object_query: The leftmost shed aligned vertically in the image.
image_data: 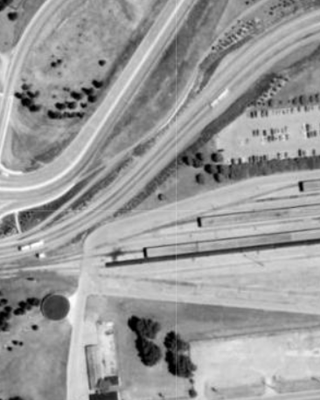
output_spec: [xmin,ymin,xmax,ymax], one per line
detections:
[86,346,99,391]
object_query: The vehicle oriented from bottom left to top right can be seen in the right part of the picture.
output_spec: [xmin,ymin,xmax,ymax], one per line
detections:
[211,90,229,107]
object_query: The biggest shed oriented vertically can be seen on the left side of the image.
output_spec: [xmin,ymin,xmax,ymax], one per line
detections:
[97,320,116,379]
